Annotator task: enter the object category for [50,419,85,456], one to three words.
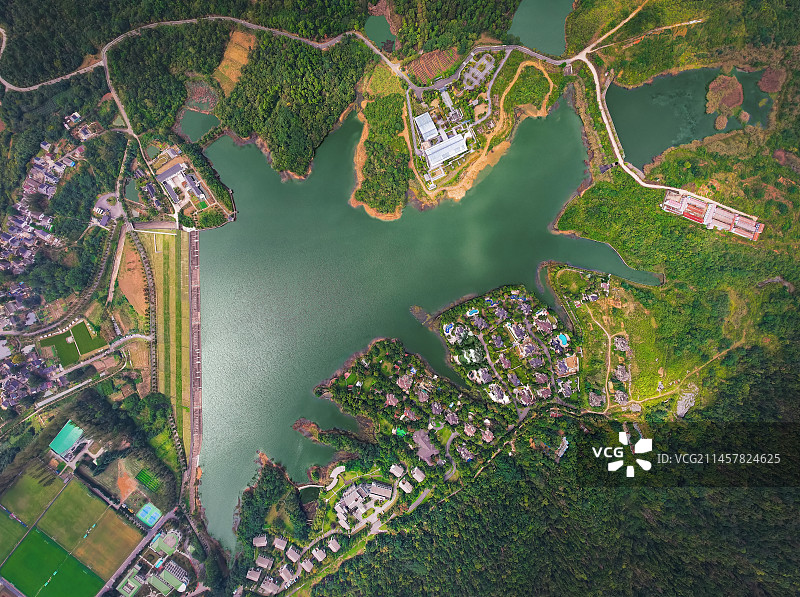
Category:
building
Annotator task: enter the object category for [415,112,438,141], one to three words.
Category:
building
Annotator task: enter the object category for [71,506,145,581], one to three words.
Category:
soccer field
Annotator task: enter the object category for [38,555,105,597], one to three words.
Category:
soccer field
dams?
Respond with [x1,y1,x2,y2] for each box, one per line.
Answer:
[136,230,202,512]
